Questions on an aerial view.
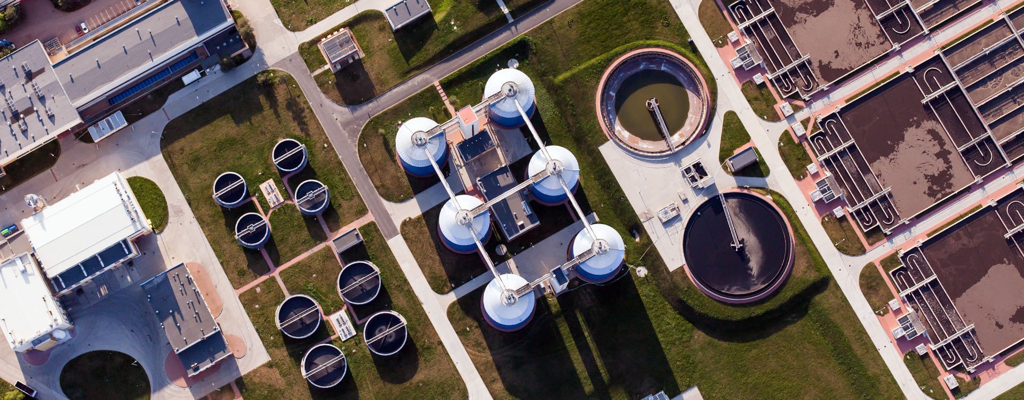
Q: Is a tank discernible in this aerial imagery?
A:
Yes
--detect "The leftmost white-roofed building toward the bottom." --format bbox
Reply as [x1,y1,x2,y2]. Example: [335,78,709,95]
[0,252,77,356]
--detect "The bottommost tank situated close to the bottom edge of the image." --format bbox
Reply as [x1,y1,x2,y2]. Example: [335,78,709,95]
[300,343,347,389]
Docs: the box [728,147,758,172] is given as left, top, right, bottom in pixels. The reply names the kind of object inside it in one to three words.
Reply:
building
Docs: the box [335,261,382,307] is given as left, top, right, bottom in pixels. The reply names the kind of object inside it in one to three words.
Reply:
storage tank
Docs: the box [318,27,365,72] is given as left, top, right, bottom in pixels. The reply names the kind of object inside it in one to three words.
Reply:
shed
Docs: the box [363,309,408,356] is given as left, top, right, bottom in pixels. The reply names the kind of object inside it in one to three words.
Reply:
storage tank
